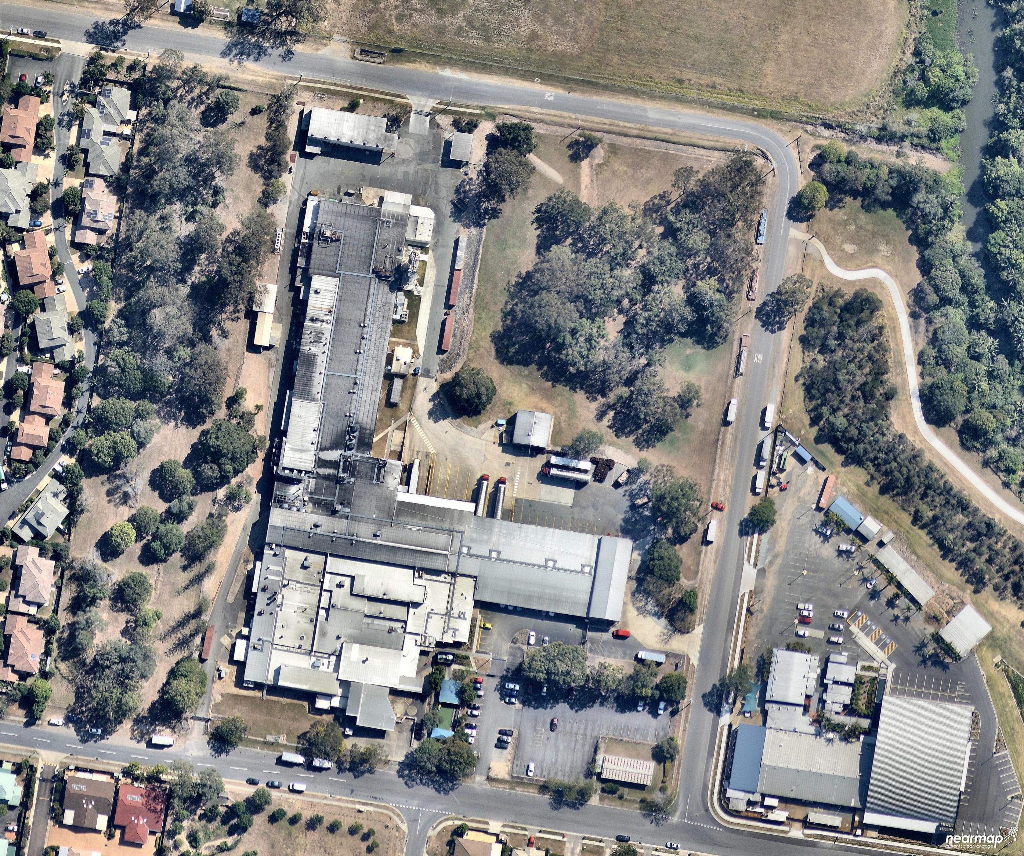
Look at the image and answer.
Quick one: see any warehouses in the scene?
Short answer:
Yes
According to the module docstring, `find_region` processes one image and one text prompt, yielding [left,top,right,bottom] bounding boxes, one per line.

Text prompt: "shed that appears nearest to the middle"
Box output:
[513,410,553,449]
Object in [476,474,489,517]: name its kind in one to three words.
vehicle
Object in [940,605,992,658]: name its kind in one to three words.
shed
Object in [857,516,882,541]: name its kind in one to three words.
building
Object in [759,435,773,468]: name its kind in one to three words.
vehicle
